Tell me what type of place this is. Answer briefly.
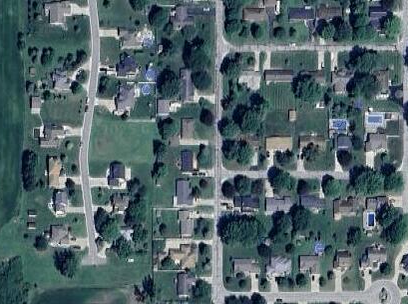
residential area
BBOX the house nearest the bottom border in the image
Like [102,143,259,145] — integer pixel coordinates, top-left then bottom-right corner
[178,274,194,298]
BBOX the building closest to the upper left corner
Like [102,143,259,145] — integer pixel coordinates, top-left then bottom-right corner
[44,3,70,25]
